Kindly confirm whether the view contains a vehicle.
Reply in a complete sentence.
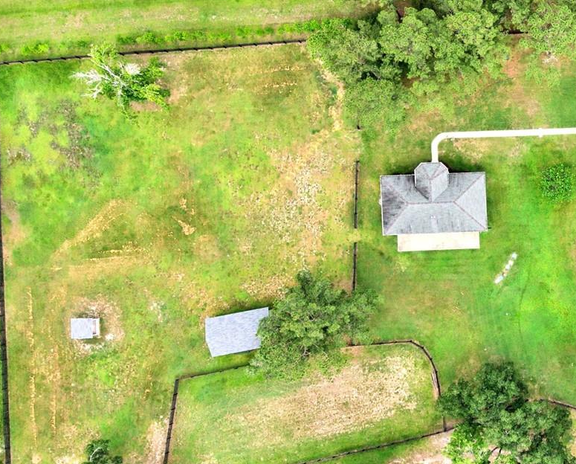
No, the scene contains no vehicle.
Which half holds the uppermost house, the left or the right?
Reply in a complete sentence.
The uppermost house appears in the right half of the scene.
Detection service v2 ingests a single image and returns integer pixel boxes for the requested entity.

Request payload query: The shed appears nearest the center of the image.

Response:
[206,307,279,357]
